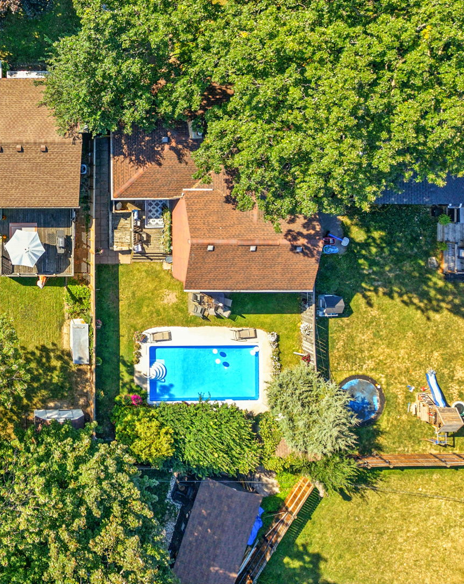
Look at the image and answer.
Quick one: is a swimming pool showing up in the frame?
Yes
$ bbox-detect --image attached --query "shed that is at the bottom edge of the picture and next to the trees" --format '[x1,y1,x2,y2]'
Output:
[165,464,263,584]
